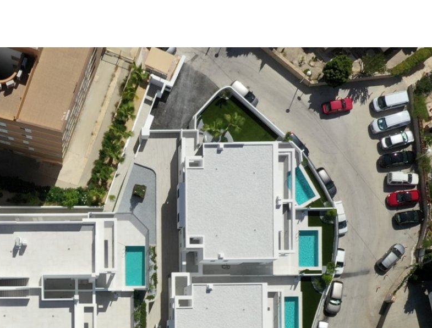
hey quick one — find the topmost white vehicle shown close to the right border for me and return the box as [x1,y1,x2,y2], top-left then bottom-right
[368,90,411,112]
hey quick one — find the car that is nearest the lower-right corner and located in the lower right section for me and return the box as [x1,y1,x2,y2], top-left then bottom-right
[372,241,404,275]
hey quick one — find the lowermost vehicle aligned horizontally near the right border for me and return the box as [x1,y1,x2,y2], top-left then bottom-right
[390,210,424,226]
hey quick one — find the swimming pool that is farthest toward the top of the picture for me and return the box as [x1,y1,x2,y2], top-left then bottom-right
[295,164,318,207]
